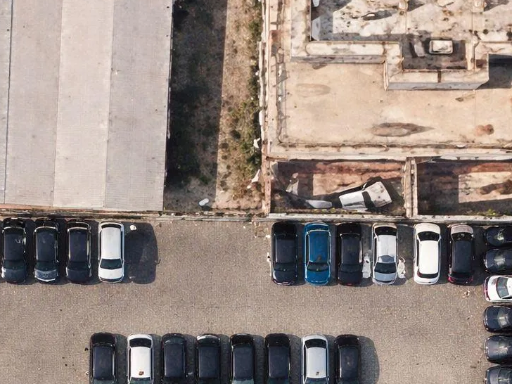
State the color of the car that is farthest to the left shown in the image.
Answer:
black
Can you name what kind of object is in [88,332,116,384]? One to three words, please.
car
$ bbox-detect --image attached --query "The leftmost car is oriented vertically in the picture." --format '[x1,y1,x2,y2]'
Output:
[0,215,27,285]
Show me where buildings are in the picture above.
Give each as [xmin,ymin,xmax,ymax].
[0,0,175,213]
[265,0,512,166]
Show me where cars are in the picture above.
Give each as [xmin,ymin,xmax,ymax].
[413,223,443,287]
[32,216,59,285]
[481,333,512,365]
[481,304,512,334]
[483,225,512,247]
[264,331,292,384]
[88,332,116,384]
[371,222,400,288]
[334,331,363,384]
[159,331,188,384]
[482,274,512,304]
[95,218,126,284]
[64,217,93,286]
[0,215,27,285]
[482,364,512,384]
[447,224,476,287]
[481,245,512,276]
[301,331,330,384]
[270,220,300,288]
[126,331,154,384]
[228,332,257,384]
[303,223,334,288]
[194,331,223,384]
